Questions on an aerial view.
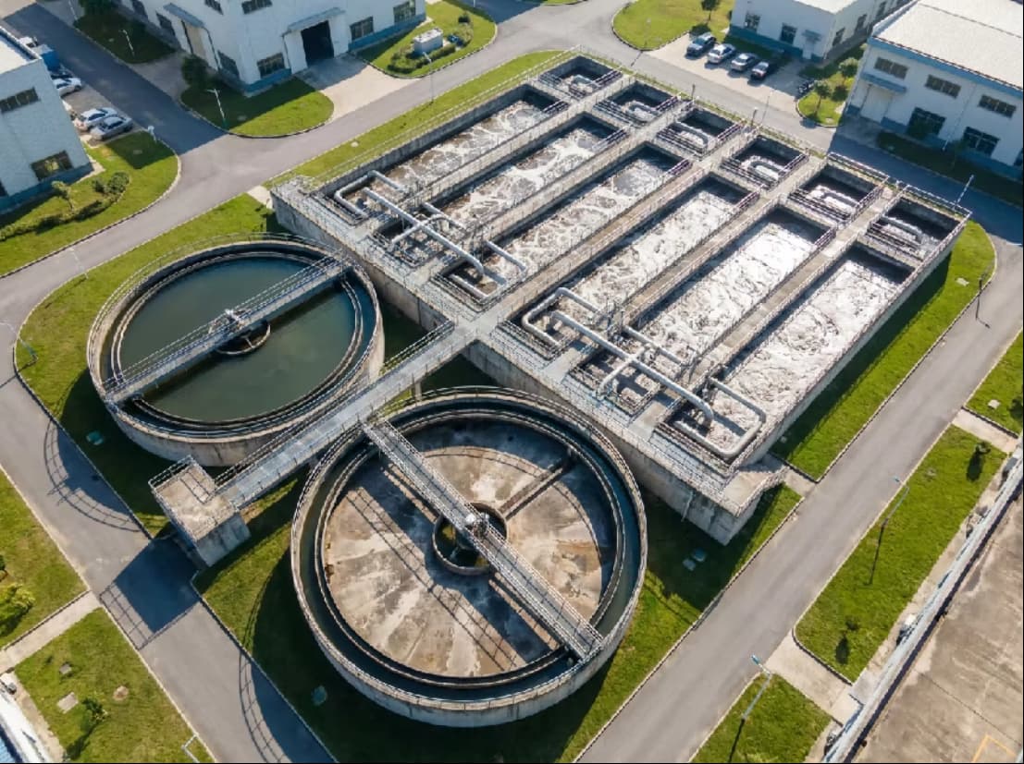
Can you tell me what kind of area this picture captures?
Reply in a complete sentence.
The area seen from above is an industrial area.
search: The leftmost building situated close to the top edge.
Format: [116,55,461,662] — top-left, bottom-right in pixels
[0,25,93,206]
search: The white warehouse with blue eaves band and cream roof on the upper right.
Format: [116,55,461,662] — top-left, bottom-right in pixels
[847,0,1024,180]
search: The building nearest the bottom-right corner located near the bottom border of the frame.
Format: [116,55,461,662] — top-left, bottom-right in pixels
[828,462,1024,764]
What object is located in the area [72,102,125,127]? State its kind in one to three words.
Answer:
car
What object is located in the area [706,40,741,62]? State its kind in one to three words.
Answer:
car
